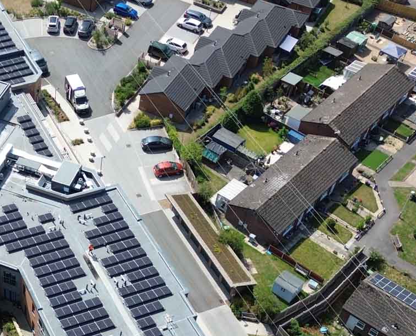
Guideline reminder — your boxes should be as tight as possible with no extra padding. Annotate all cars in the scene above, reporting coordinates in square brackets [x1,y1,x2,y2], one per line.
[31,50,49,72]
[141,138,173,154]
[114,6,137,19]
[176,19,205,35]
[64,14,77,33]
[48,14,60,33]
[185,11,211,28]
[146,42,175,61]
[80,19,94,36]
[154,164,184,178]
[160,38,188,54]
